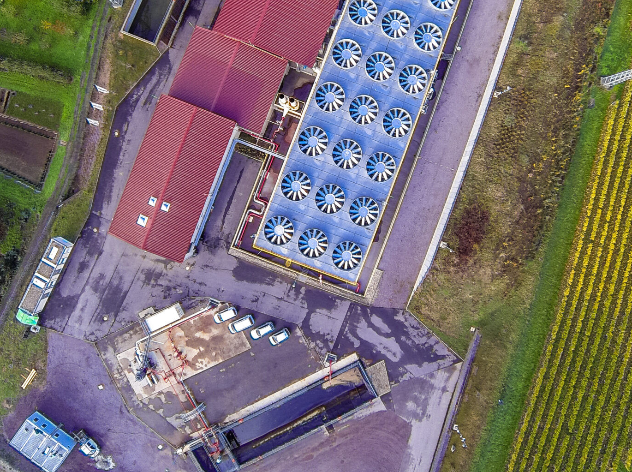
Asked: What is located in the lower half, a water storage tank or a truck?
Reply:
truck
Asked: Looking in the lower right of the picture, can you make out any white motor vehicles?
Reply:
No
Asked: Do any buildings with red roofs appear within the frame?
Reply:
Yes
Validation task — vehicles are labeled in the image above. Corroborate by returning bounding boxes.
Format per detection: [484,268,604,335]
[211,307,238,324]
[249,322,276,340]
[226,315,256,335]
[268,328,292,346]
[69,422,101,464]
